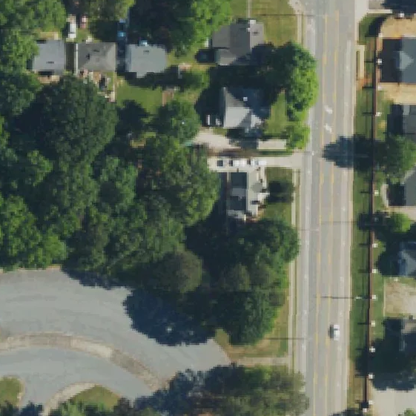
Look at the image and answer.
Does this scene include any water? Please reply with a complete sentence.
No, water can't be seen anywhere here.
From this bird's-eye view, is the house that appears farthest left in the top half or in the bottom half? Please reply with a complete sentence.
The house that appears farthest left is in the top half of the image.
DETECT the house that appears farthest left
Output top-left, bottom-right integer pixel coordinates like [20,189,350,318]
[36,41,65,71]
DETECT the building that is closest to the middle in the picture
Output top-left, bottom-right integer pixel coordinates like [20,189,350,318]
[228,171,273,210]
